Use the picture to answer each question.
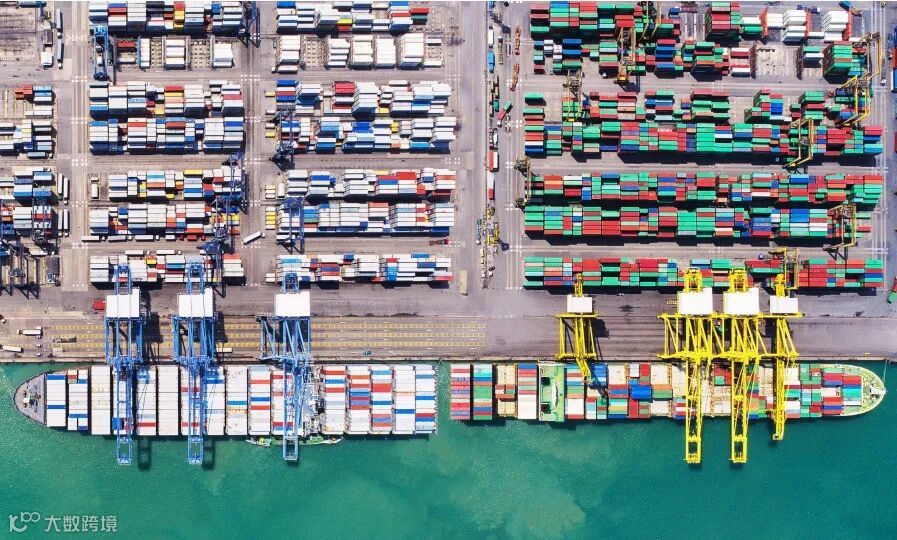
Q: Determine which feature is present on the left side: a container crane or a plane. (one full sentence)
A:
There is a container crane on the left side.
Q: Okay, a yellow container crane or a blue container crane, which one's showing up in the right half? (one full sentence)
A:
The one visible in the right half is a yellow container crane.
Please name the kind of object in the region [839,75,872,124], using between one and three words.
crane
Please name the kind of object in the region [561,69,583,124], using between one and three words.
crane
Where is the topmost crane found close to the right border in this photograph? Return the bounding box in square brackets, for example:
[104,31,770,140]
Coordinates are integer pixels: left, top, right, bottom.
[853,30,883,83]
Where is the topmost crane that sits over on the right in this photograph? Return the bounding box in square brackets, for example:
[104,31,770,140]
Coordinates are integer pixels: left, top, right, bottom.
[636,0,661,43]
